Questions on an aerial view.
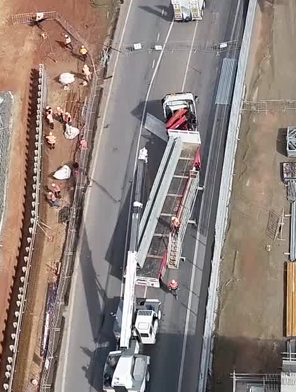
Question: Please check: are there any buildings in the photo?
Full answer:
No, I find no building anywhere in the image.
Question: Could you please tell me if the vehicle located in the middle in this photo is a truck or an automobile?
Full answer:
The vehicle located in the middle in the image is a truck.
